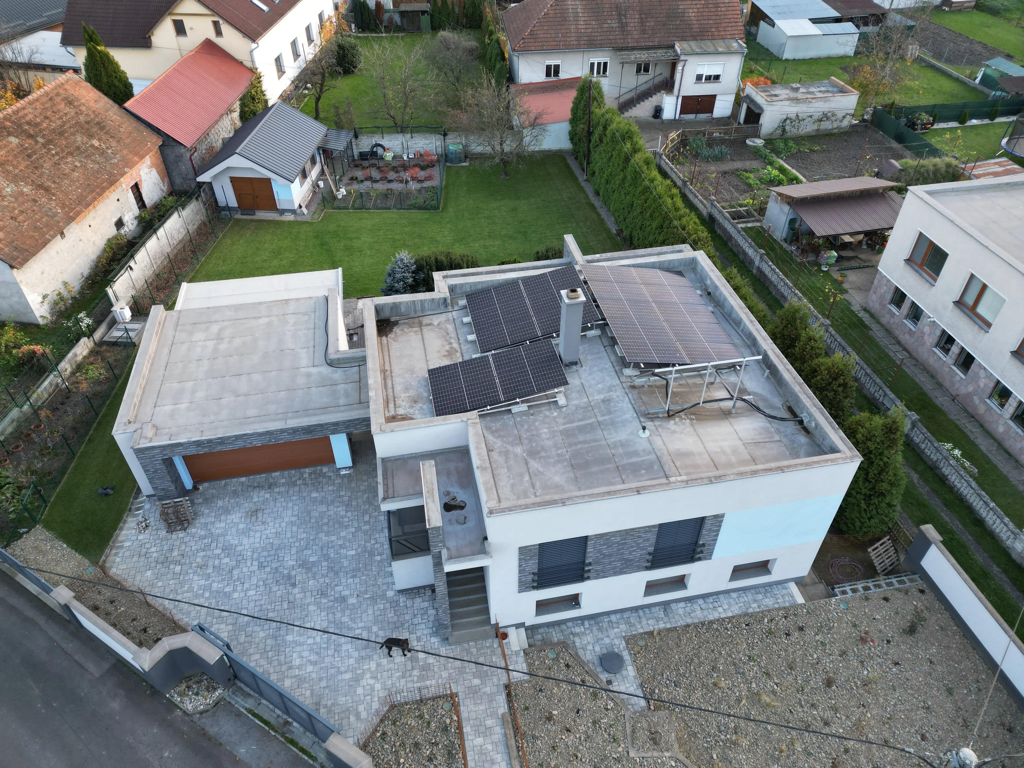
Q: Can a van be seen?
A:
No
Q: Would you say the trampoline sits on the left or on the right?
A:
right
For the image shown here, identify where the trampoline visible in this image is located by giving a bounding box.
[994,103,1024,160]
